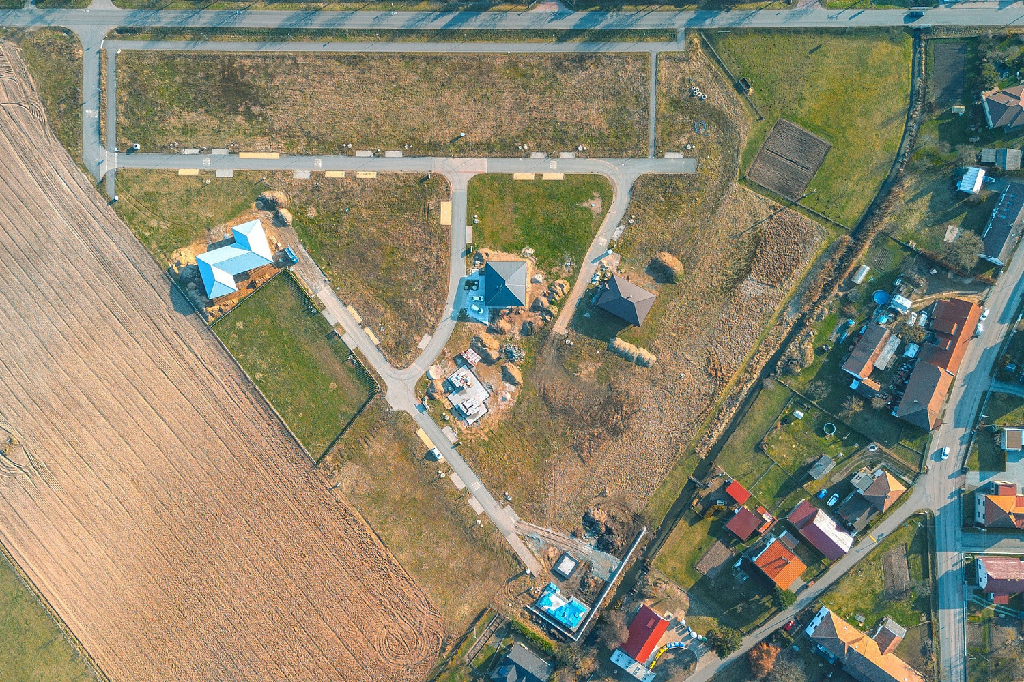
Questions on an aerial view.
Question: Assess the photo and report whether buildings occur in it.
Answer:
Yes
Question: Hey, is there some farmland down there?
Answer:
Yes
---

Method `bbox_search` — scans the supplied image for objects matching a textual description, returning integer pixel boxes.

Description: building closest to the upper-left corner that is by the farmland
[196,219,275,299]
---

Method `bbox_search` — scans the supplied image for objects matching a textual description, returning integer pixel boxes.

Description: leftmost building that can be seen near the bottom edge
[492,641,550,682]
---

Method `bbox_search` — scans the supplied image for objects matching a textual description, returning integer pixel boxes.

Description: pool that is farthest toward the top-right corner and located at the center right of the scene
[873,289,891,305]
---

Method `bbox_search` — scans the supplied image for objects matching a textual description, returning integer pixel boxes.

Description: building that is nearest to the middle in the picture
[486,261,526,306]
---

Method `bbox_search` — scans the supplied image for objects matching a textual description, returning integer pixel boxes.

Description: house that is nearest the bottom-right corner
[976,556,1024,605]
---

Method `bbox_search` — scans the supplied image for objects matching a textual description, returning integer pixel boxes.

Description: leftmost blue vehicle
[282,245,298,264]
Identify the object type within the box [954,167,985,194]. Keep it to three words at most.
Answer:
shed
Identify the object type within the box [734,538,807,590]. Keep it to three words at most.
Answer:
house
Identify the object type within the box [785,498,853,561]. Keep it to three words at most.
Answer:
house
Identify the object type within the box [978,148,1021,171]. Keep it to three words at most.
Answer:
shed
